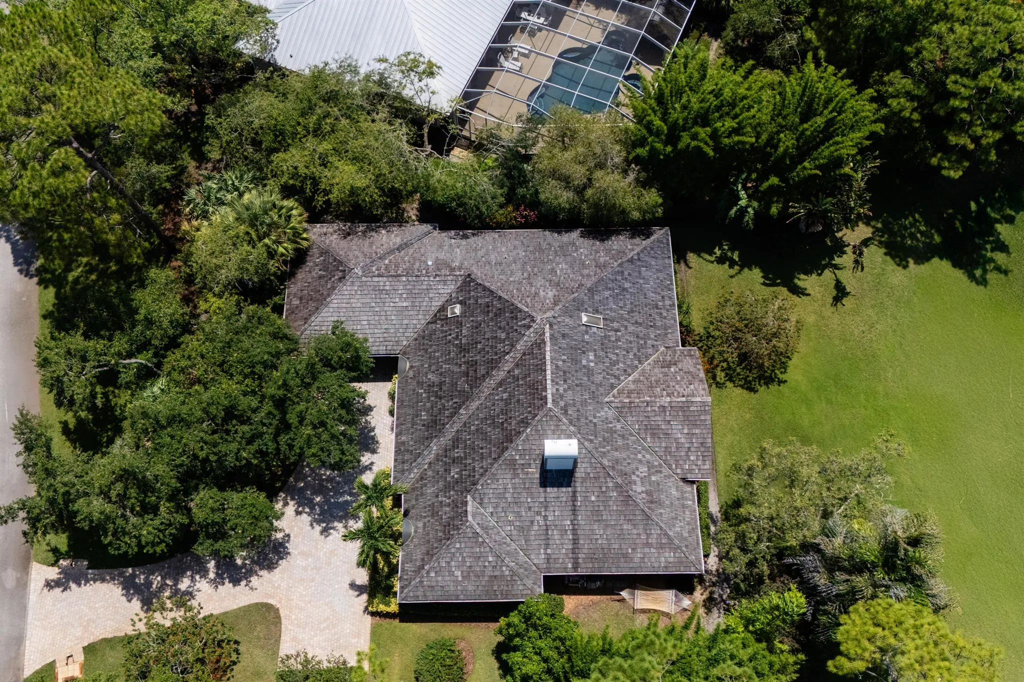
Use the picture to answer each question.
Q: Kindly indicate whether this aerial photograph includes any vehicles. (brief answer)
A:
No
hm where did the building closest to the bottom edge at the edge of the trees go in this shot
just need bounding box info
[279,222,713,604]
